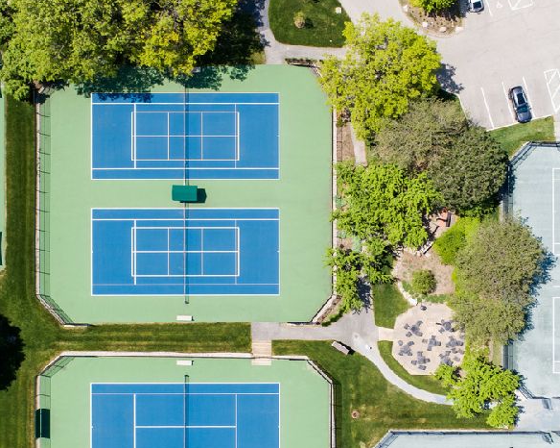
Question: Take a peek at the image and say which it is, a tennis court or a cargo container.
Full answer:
Looking from above, you can make out a tennis court.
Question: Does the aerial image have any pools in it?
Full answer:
No, there appears to be no pool in this shot.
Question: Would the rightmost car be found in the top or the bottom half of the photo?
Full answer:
It is in the top half that the rightmost car appears.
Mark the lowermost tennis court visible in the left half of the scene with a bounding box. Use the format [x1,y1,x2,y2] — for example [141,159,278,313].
[91,383,280,448]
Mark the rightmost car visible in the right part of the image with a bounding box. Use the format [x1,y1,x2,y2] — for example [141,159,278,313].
[509,83,532,123]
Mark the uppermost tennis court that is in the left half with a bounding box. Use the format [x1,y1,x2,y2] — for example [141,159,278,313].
[91,93,280,179]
